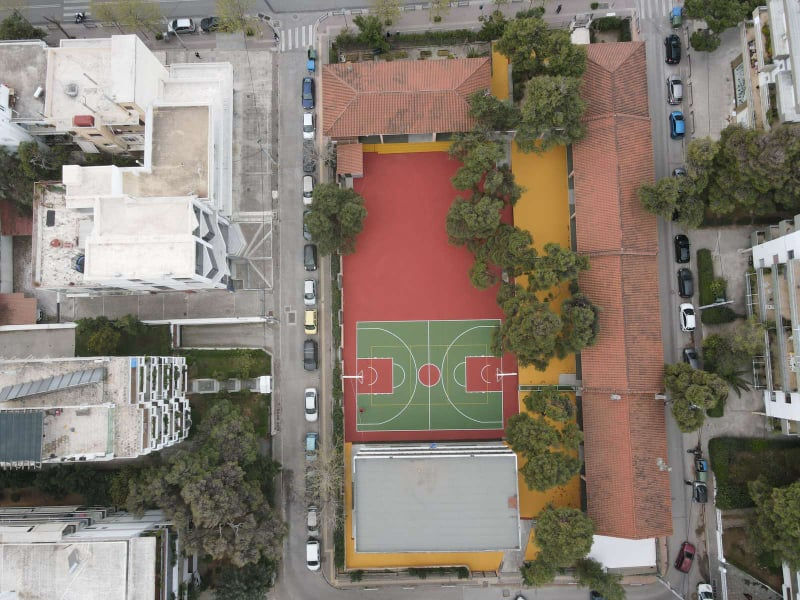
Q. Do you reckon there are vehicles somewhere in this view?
Yes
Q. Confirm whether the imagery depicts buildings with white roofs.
Yes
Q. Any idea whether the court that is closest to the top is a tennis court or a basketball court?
basketball court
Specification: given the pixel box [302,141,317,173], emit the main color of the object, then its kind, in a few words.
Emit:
gray car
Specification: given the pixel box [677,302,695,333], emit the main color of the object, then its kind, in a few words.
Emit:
white car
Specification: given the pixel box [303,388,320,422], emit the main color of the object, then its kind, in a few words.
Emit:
white car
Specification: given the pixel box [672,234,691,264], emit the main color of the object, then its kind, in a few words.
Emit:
black car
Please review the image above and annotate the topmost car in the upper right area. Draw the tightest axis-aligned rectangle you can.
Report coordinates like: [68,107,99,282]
[662,35,682,66]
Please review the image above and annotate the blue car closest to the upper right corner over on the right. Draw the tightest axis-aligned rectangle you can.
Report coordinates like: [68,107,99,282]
[667,111,685,141]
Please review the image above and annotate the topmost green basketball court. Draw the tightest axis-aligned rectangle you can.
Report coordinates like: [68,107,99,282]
[356,319,504,431]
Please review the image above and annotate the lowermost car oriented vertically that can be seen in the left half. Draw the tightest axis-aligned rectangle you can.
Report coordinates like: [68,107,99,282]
[305,538,321,571]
